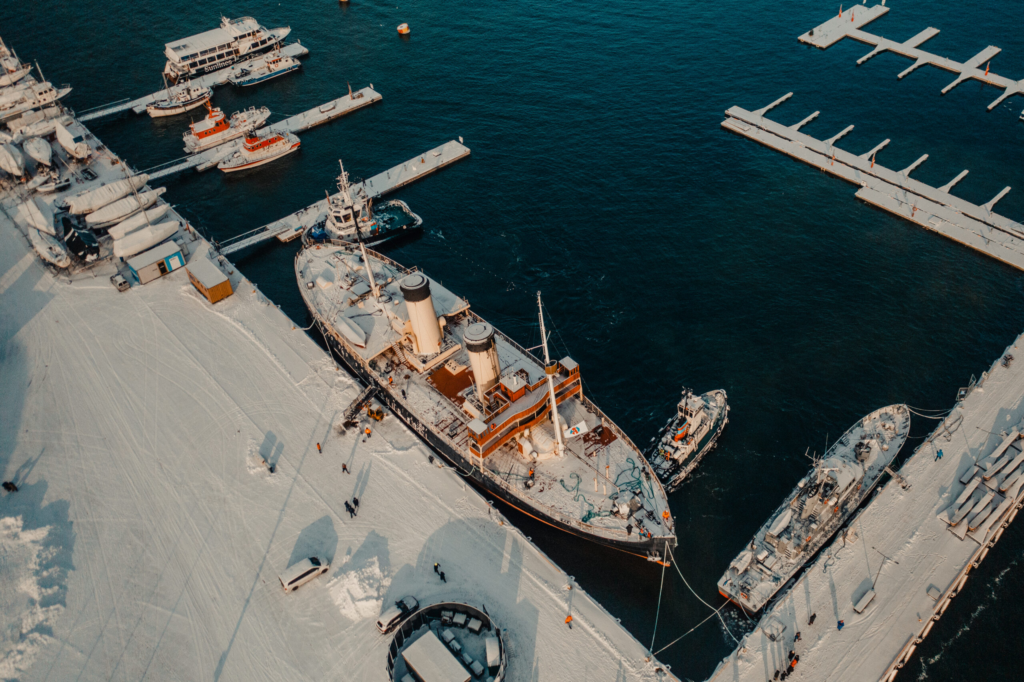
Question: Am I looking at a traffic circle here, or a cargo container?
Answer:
cargo container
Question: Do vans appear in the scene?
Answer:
Yes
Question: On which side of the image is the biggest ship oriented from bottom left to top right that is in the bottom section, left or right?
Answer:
right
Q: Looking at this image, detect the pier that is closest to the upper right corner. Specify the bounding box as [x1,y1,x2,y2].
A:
[963,46,1001,69]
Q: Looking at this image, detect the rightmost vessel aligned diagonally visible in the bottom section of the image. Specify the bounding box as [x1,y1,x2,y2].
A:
[713,402,914,624]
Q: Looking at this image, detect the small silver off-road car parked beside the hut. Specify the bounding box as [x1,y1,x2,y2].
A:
[109,273,128,290]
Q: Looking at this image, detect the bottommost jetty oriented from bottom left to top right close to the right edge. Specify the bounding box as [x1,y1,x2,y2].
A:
[702,329,1024,682]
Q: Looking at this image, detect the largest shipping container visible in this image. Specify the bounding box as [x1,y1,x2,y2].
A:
[185,258,233,304]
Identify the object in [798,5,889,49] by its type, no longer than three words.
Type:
pier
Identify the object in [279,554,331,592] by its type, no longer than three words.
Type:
van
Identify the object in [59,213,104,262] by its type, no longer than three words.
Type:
boat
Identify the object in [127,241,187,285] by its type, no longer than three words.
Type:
shed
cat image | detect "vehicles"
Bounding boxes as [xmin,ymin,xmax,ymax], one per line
[279,554,331,592]
[371,595,418,638]
[365,396,394,420]
[109,273,128,290]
